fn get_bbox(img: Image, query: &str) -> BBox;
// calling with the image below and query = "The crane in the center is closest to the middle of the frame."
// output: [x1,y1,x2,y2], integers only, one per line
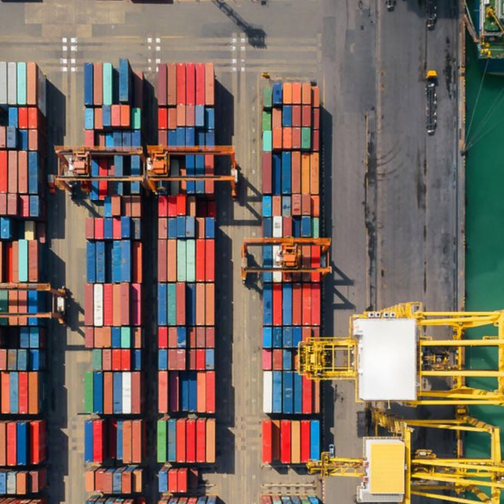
[235,235,333,289]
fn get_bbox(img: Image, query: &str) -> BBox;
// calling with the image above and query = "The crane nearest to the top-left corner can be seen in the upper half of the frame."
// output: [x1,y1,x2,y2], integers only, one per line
[49,144,153,205]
